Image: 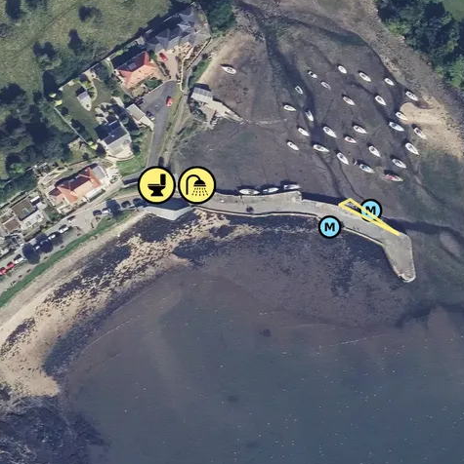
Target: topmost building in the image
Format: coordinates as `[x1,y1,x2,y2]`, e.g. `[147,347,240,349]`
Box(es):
[157,6,216,64]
